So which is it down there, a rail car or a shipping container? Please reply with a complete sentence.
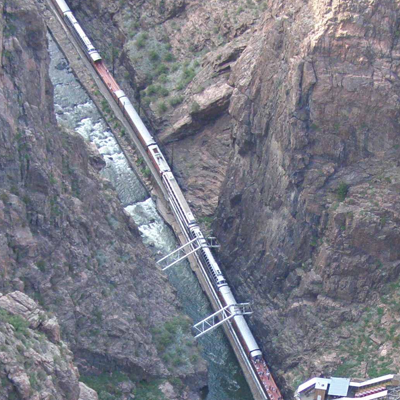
This aerial view contains a rail car.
